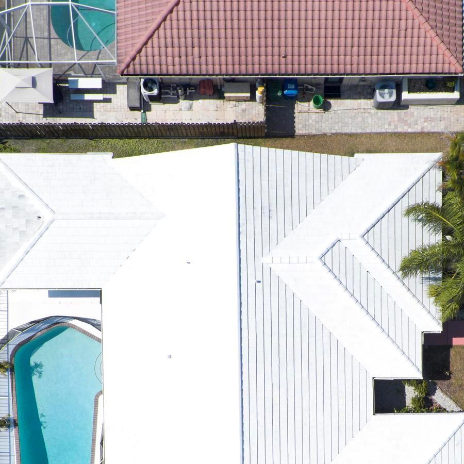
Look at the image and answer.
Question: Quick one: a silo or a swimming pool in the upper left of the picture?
swimming pool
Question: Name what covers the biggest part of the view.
buildings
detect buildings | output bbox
[0,141,464,464]
[114,0,464,86]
